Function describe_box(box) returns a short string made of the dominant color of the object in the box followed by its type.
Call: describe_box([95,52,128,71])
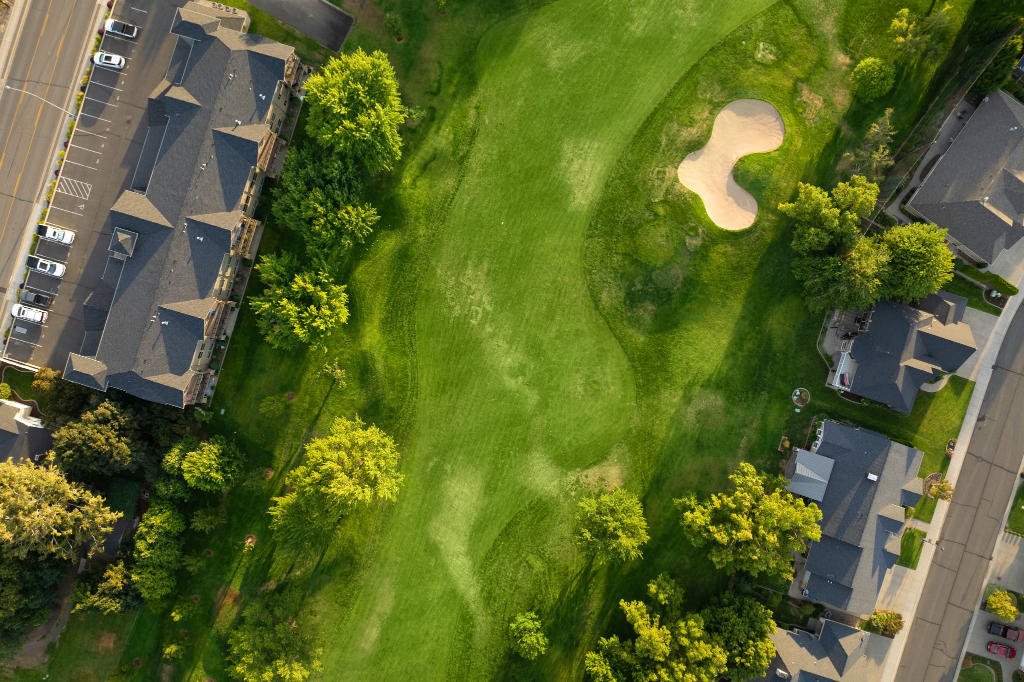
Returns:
white car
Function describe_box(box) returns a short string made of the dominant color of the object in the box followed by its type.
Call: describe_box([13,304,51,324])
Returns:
white car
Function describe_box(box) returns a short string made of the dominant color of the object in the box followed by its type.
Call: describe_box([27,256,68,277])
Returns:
white truck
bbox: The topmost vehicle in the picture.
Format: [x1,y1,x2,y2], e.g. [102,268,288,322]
[105,19,142,40]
